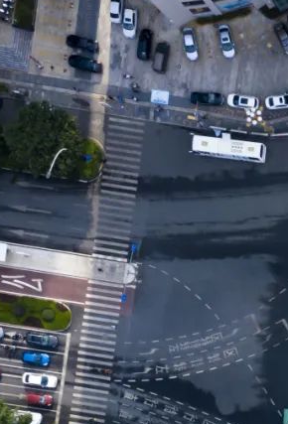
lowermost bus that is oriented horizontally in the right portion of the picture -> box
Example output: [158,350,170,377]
[190,132,270,164]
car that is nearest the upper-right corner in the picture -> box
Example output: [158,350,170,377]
[273,20,288,54]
